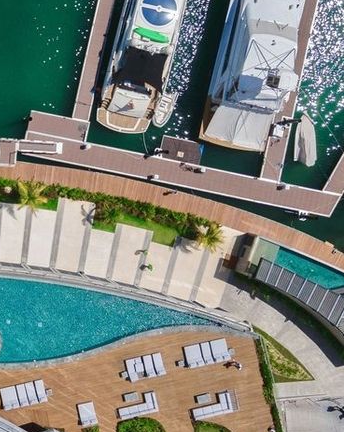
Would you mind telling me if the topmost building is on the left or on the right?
right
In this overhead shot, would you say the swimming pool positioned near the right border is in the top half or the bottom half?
bottom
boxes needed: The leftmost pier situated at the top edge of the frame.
[71,0,115,121]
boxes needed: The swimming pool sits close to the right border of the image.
[247,235,344,329]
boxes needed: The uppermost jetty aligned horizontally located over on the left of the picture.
[27,111,89,142]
